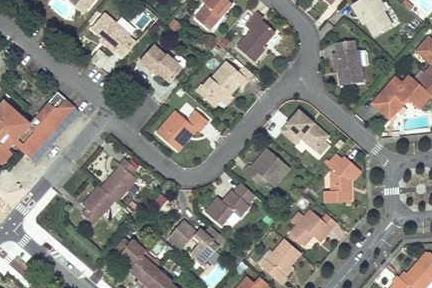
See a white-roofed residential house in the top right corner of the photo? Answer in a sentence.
Yes, you'll find a white-roofed residential house in the top right corner of the photo.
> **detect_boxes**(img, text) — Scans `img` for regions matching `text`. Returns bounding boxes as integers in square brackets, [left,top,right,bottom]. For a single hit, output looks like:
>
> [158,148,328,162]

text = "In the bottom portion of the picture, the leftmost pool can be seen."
[204,264,225,288]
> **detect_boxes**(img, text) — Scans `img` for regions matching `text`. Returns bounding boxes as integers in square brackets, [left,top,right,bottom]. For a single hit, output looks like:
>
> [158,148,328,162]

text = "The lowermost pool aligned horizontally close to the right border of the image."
[404,116,430,130]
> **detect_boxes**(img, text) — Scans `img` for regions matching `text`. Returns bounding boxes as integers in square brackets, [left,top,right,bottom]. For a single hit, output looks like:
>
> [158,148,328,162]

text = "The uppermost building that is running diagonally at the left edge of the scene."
[18,100,76,162]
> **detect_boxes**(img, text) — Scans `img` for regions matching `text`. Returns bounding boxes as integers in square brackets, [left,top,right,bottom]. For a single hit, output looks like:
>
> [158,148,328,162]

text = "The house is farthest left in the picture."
[0,99,31,166]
